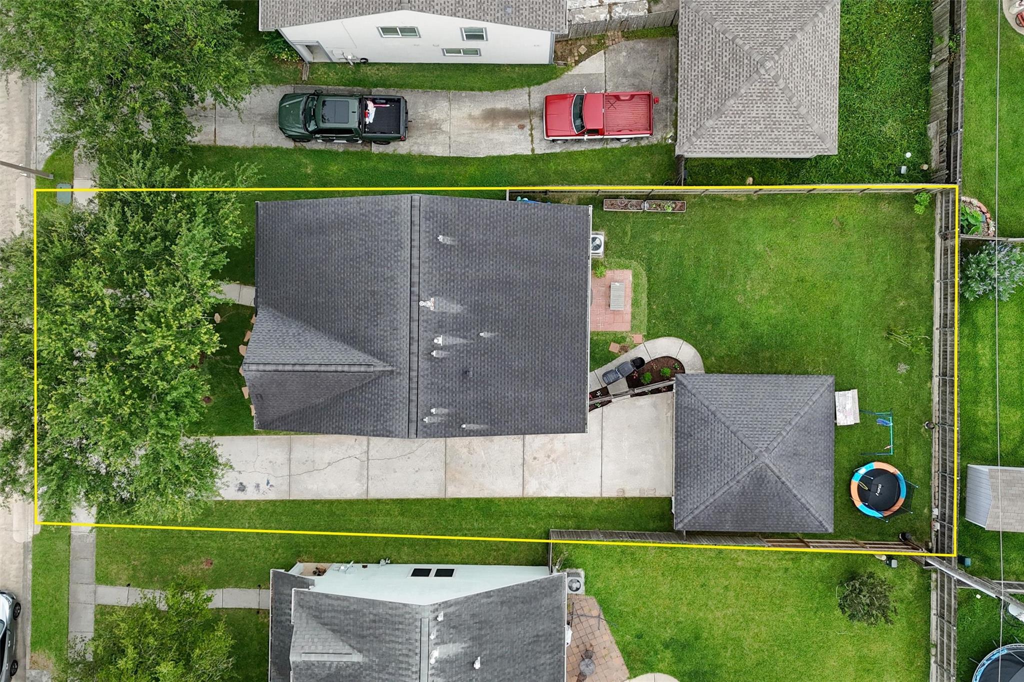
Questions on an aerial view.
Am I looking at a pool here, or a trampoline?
trampoline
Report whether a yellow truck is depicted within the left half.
No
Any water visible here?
No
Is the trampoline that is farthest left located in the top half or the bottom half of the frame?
bottom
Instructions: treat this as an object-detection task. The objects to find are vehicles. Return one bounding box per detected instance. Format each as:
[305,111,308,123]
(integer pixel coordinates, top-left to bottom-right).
[0,590,25,682]
[278,85,414,144]
[540,85,655,142]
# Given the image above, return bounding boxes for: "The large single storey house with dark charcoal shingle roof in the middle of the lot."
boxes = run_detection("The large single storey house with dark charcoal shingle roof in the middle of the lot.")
[242,194,595,439]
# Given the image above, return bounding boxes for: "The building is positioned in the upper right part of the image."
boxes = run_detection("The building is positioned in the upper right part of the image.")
[674,0,841,159]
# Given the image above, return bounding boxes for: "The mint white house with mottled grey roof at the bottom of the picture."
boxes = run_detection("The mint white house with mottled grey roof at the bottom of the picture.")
[267,559,570,682]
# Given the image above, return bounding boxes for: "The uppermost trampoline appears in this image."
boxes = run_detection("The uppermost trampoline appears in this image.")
[847,461,919,525]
